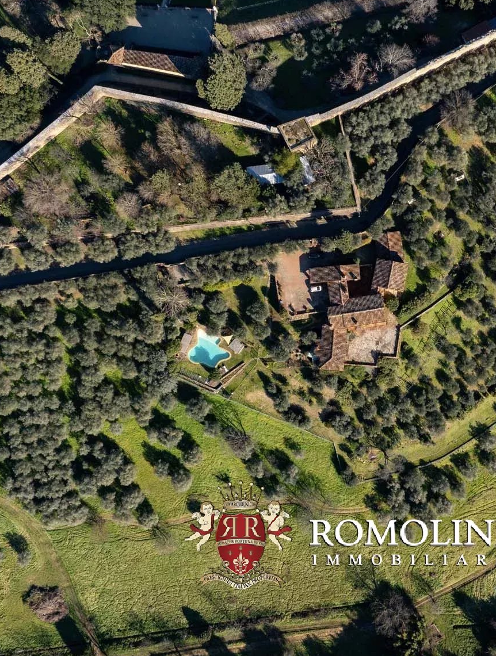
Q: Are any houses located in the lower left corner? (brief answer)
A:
No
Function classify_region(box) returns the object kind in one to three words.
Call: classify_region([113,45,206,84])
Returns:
house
